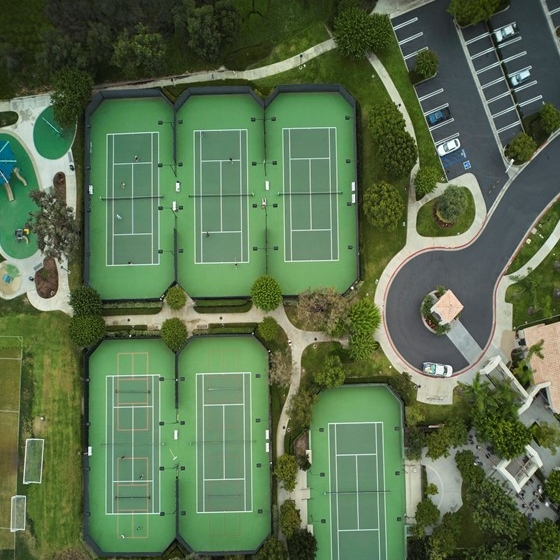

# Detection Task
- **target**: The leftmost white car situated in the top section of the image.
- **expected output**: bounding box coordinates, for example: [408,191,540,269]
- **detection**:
[436,137,462,156]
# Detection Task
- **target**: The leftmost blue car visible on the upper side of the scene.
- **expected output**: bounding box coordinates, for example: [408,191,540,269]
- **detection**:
[424,106,450,125]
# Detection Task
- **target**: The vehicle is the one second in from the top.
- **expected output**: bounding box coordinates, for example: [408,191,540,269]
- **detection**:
[506,66,532,84]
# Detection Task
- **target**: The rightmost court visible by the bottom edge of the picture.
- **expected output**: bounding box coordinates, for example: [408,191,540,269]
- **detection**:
[308,385,406,560]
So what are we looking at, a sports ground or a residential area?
sports ground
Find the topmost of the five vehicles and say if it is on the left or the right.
right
